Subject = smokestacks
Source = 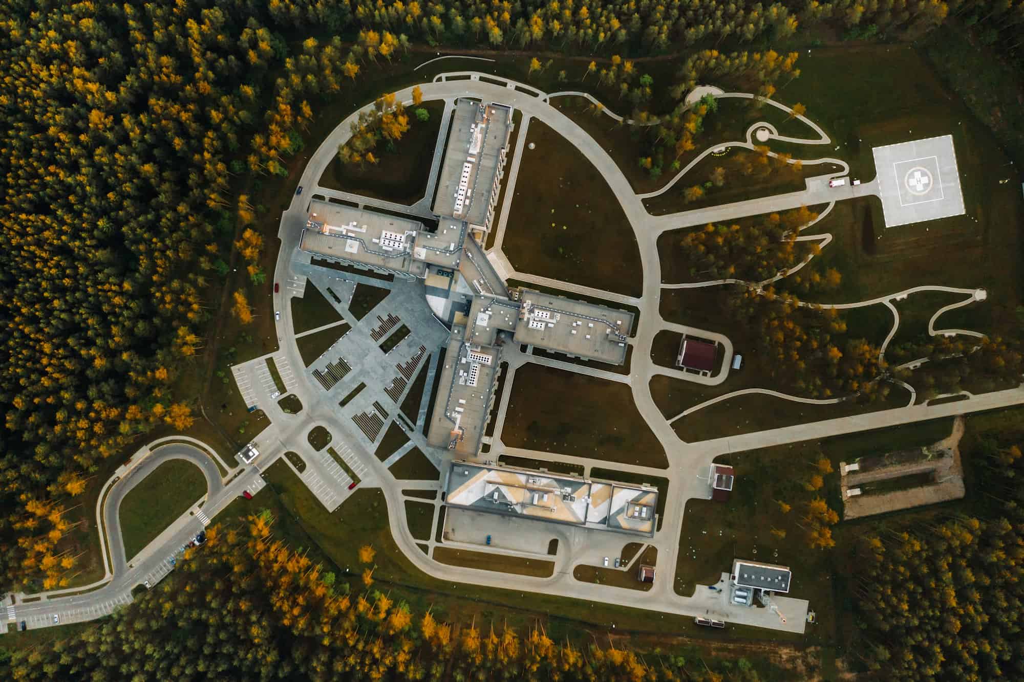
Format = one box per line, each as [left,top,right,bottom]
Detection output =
[761,593,787,624]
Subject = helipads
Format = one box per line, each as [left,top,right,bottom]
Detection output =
[873,134,965,227]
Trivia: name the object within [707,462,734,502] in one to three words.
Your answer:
shed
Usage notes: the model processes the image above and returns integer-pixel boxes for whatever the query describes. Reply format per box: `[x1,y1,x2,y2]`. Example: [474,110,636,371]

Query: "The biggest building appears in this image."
[299,97,635,457]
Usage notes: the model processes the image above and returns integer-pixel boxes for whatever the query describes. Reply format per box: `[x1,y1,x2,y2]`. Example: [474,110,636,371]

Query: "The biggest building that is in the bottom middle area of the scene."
[445,458,658,537]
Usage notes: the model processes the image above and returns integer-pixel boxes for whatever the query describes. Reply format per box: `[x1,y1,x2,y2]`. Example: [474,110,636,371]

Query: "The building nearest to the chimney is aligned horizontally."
[728,557,791,593]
